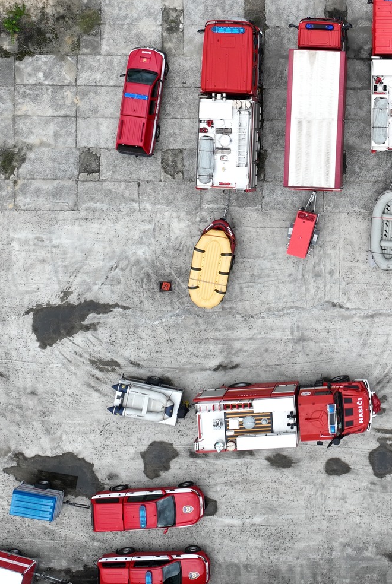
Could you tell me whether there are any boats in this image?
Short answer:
Yes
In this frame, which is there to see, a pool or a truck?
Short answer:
truck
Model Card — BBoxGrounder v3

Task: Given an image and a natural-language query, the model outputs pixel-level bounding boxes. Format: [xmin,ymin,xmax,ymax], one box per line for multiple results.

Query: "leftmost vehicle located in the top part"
[116,45,173,161]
